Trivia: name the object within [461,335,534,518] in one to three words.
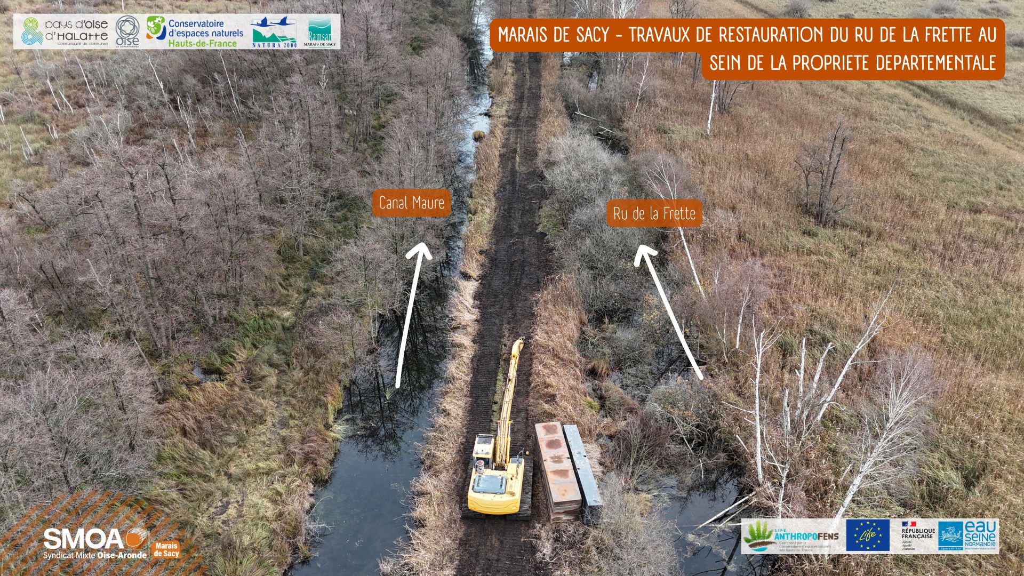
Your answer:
work vehicle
